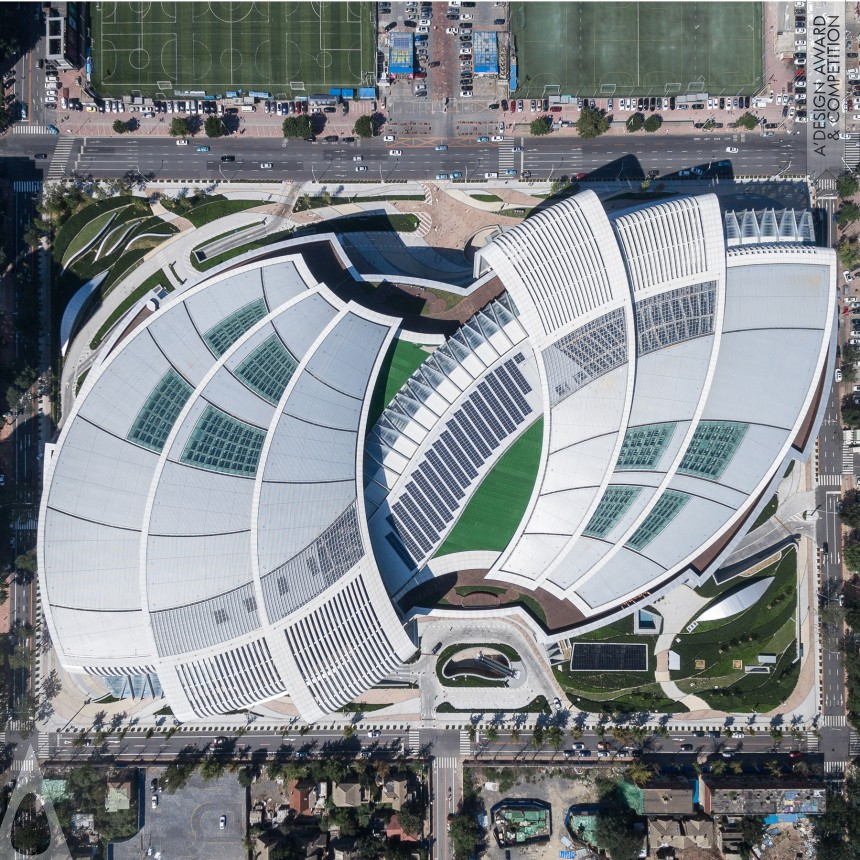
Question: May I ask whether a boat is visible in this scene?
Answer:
No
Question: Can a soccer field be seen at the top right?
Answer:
Yes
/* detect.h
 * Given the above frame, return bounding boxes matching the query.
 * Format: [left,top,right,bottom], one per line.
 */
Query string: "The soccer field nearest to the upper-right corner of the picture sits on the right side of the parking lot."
[509,0,762,96]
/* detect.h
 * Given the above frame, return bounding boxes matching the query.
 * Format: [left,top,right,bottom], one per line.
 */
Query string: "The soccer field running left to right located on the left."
[89,0,376,96]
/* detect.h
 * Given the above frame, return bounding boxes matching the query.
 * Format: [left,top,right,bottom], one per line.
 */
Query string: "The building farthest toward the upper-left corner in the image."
[40,0,79,71]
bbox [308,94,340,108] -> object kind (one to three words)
building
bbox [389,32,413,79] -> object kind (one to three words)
building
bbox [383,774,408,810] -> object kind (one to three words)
house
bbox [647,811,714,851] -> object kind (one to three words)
house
